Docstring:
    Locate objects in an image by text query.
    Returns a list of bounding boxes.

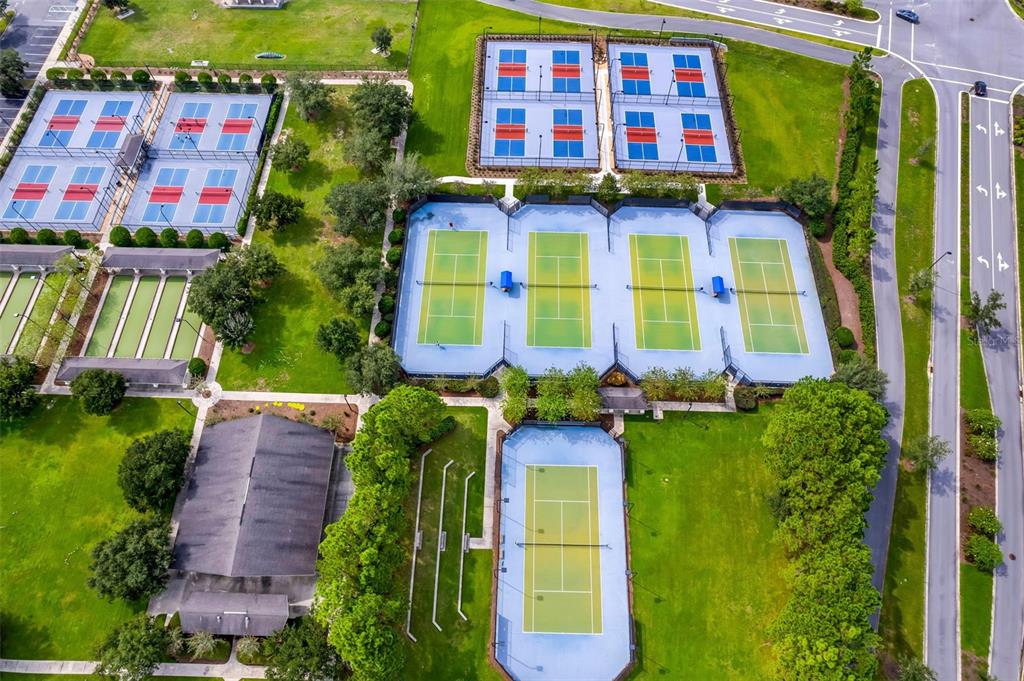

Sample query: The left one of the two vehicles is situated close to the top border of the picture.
[897,9,921,22]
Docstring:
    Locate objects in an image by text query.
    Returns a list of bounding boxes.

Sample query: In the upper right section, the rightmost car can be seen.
[976,80,991,98]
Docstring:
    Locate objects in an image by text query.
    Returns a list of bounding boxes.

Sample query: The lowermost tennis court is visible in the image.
[496,426,630,681]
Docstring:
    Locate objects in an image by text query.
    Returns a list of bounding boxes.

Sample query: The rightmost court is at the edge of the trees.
[706,210,835,382]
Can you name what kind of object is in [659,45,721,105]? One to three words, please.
sports court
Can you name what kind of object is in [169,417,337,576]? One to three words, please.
building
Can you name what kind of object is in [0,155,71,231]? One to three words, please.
sports court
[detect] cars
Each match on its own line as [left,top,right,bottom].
[976,80,991,98]
[897,9,921,22]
